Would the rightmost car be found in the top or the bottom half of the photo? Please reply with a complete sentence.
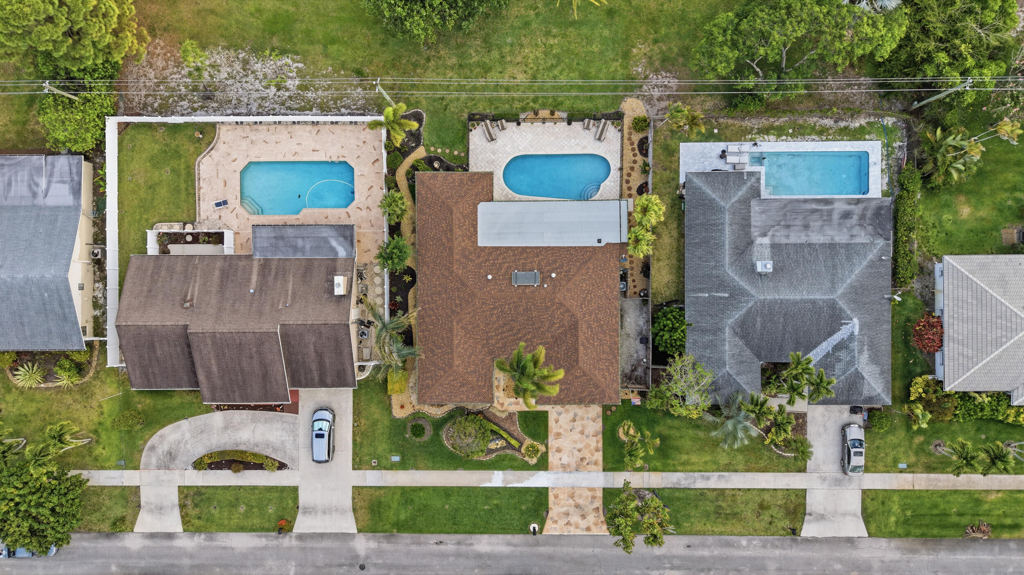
The bottom half of the photo is where the rightmost car is.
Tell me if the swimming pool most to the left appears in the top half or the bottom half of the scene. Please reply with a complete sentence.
You can find the swimming pool most to the left in the top half.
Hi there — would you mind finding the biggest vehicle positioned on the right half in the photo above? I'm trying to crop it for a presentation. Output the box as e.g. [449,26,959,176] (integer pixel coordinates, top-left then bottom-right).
[840,424,868,476]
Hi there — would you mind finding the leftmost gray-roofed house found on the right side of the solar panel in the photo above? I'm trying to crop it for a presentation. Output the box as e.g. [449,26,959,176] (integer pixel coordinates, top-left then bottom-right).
[684,171,892,406]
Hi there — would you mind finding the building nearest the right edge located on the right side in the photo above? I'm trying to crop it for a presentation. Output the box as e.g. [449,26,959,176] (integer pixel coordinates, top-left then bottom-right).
[928,254,1024,406]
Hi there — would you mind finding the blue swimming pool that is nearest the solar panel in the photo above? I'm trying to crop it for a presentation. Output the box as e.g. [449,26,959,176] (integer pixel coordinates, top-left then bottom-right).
[498,148,616,201]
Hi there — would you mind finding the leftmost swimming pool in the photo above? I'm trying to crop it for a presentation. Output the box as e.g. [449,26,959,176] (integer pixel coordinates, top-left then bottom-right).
[237,158,358,218]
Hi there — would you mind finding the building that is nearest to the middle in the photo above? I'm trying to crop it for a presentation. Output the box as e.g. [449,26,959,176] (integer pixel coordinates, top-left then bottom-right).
[415,171,633,405]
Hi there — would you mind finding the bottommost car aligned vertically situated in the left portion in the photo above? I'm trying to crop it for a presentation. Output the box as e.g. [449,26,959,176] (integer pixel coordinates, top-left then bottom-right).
[309,407,336,463]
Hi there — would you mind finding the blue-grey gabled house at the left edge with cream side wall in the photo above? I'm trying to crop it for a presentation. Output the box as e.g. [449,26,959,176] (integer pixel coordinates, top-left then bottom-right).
[0,154,94,352]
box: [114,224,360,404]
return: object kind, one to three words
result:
house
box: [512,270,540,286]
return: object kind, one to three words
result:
solar panel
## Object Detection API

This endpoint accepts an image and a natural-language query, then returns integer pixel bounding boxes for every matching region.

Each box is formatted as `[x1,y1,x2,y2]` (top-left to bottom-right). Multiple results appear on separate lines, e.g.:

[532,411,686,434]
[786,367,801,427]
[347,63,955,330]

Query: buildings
[114,224,360,404]
[0,154,94,352]
[684,171,892,406]
[415,171,633,405]
[928,254,1024,406]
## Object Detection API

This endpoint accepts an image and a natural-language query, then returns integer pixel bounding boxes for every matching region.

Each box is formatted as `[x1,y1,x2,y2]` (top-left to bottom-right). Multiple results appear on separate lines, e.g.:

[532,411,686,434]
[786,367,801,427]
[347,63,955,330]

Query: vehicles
[309,407,336,463]
[840,424,868,476]
[0,538,60,563]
